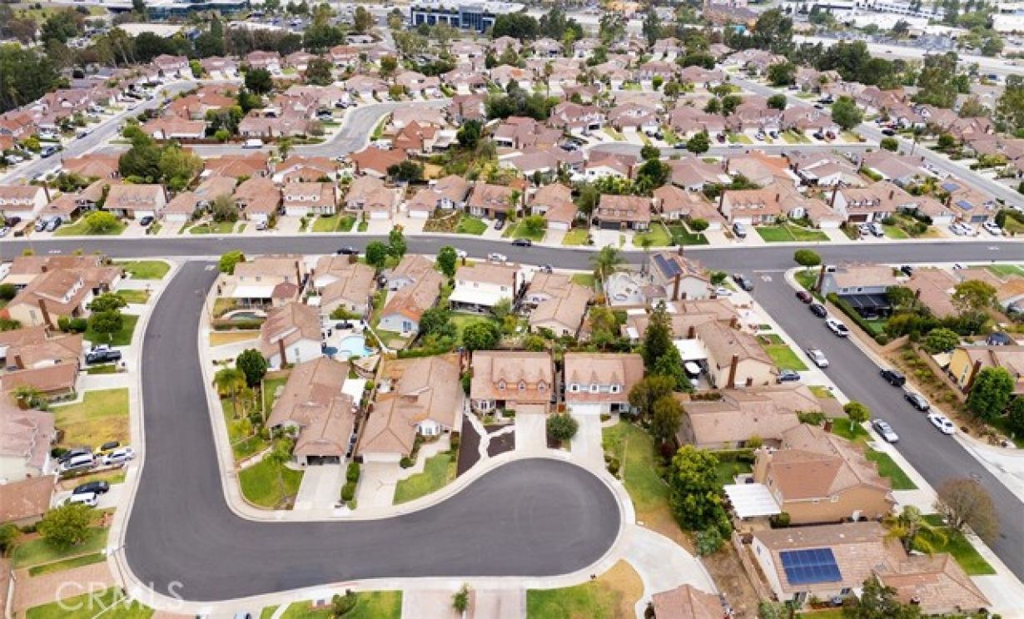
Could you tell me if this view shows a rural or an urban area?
urban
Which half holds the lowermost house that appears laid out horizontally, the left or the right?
right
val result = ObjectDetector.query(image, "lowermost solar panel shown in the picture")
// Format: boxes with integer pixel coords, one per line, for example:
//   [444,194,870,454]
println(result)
[782,552,838,583]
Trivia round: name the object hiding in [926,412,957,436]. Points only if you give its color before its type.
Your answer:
white car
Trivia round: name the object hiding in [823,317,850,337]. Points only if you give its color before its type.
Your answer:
white vehicle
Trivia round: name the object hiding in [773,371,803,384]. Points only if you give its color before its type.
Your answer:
gray vehicle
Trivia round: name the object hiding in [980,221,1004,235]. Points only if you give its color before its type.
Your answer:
white car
